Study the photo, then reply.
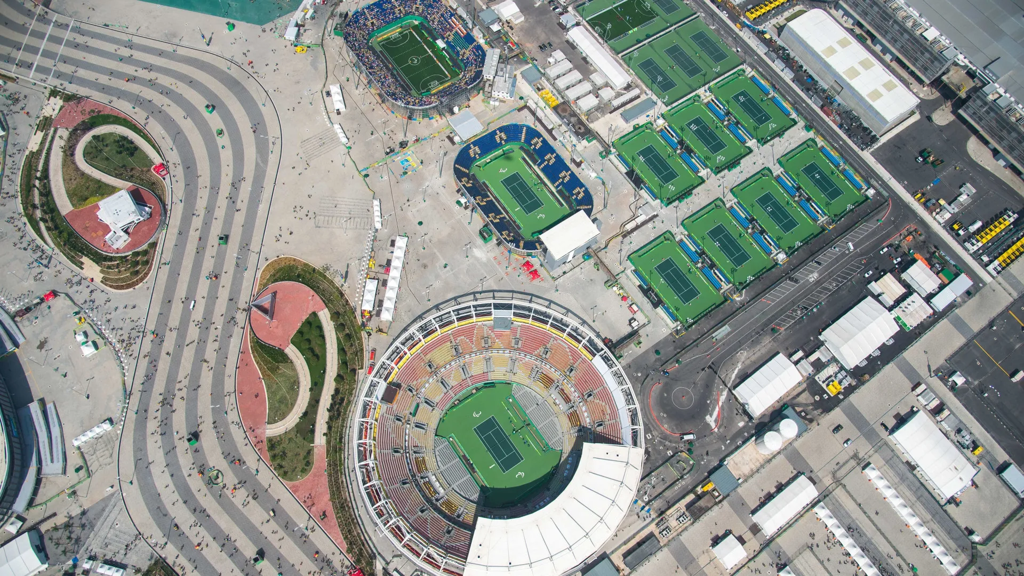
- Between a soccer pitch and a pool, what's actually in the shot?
soccer pitch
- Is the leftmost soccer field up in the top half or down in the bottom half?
top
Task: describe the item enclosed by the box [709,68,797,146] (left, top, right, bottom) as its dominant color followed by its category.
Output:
green tennis court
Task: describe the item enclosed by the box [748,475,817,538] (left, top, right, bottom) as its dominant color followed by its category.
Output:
white tent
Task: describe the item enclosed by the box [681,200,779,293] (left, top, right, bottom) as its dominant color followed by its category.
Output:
green tennis court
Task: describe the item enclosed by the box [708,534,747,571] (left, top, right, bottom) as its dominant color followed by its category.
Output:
white tent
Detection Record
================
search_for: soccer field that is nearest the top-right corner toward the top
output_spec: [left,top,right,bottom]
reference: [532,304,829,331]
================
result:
[586,0,658,42]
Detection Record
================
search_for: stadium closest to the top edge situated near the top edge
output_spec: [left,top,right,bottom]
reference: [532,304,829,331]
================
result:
[340,0,491,125]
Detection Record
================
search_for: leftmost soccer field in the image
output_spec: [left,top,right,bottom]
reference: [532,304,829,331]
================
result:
[378,24,459,93]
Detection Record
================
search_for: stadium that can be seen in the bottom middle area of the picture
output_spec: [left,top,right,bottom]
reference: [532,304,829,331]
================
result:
[355,300,645,576]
